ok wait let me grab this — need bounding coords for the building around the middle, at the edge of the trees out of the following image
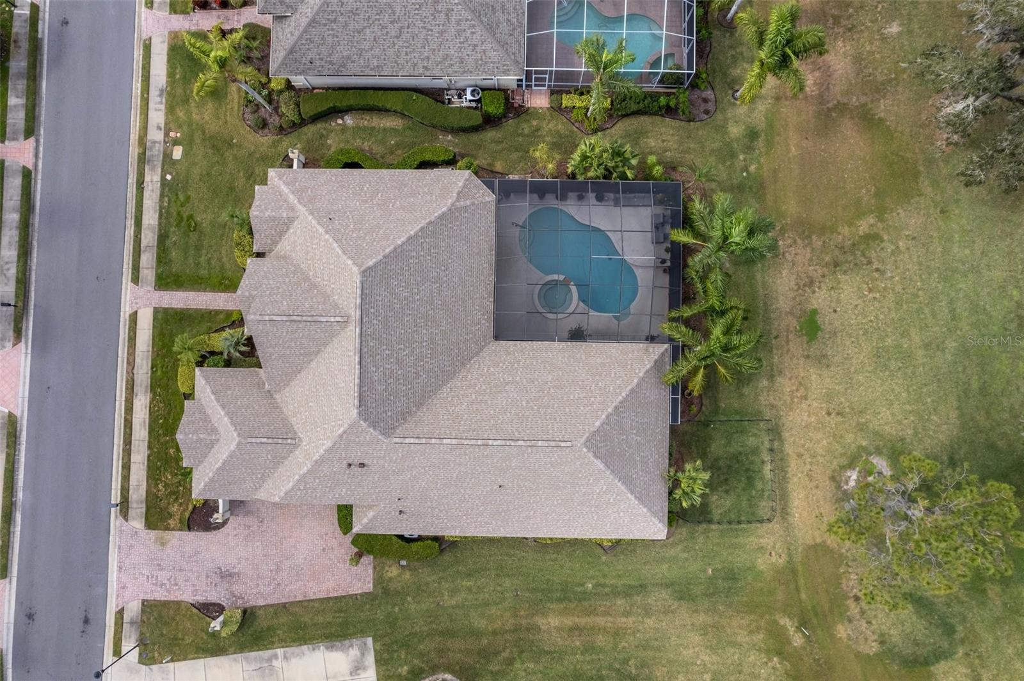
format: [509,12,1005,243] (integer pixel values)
[176,167,670,540]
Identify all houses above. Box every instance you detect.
[256,0,526,89]
[176,167,670,540]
